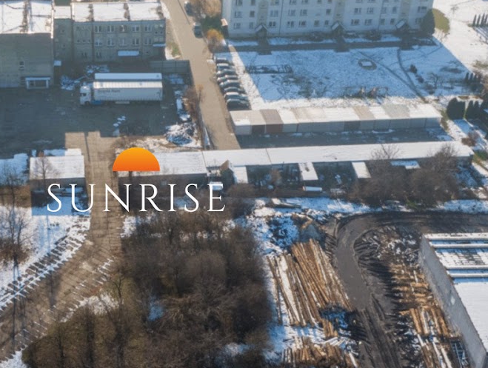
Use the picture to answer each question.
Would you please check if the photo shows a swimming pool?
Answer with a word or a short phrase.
No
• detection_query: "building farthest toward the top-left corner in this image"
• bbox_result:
[0,0,165,90]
